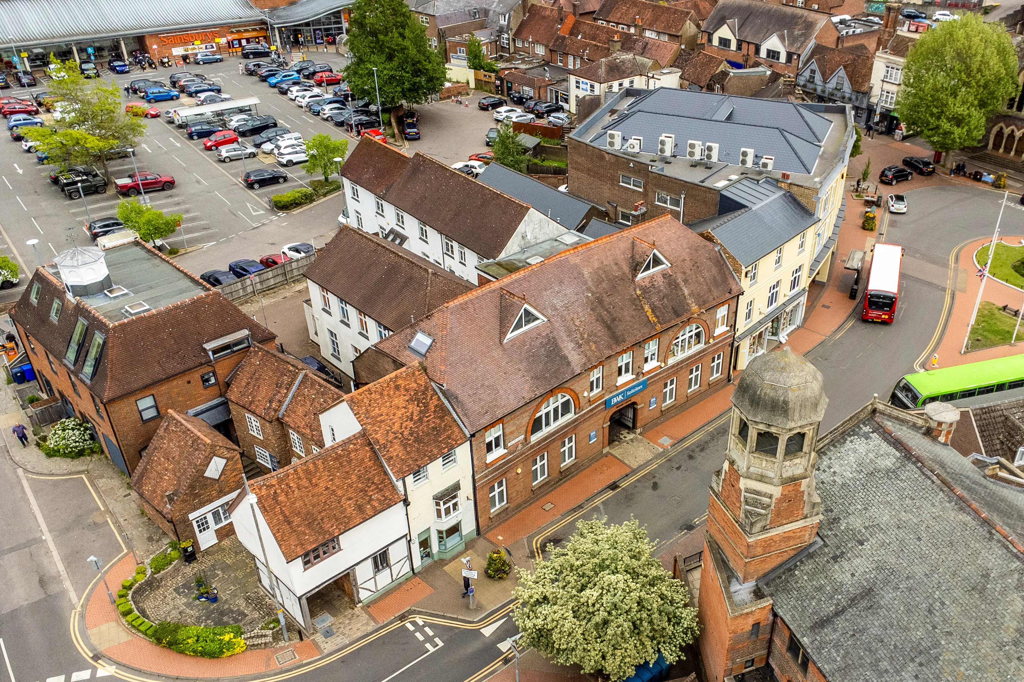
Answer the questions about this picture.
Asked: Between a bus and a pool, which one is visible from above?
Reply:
bus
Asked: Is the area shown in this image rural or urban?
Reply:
urban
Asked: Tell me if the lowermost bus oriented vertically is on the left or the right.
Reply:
right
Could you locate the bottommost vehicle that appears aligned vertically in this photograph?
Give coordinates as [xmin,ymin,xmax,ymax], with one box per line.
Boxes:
[861,244,906,326]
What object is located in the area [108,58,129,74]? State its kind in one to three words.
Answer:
car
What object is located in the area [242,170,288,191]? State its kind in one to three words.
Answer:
car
